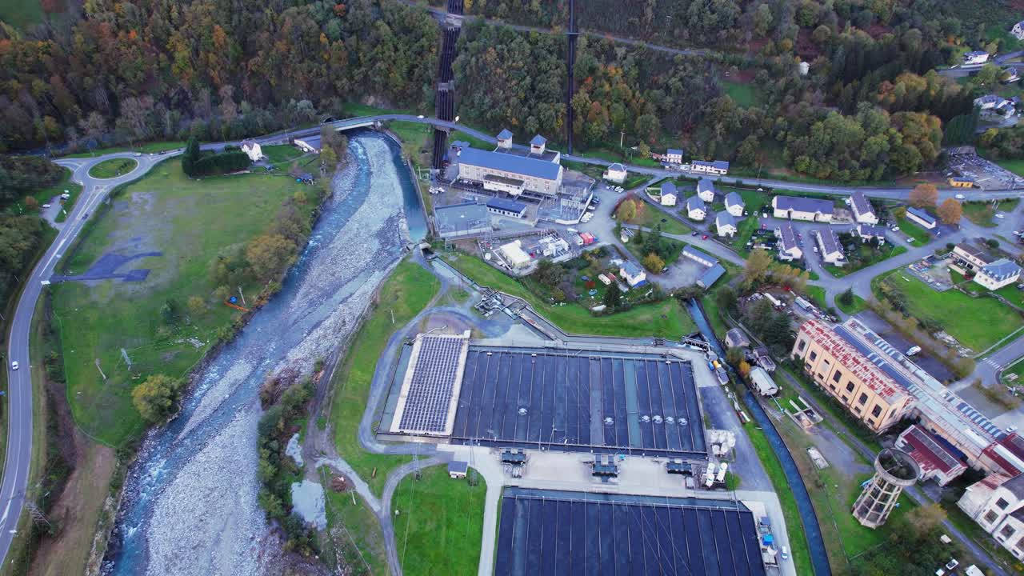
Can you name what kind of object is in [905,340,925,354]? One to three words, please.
vehicle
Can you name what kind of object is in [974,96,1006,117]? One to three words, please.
house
